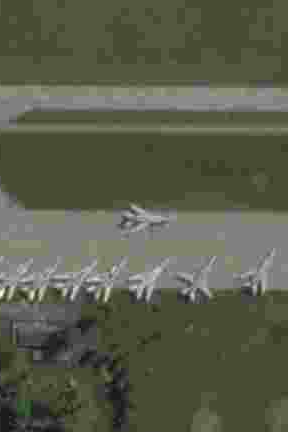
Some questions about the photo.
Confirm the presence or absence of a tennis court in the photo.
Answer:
No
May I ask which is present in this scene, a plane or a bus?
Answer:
plane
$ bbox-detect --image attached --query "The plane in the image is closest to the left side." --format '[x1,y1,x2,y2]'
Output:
[0,258,31,300]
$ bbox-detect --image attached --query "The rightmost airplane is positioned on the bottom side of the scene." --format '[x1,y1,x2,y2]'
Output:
[235,251,273,295]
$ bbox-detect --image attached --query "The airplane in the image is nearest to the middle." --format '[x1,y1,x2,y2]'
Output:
[121,201,169,233]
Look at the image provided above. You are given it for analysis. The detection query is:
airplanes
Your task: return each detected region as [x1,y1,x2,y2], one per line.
[177,257,216,301]
[0,258,31,300]
[128,259,168,300]
[235,251,273,295]
[87,258,126,301]
[56,258,96,299]
[19,258,58,301]
[121,201,169,233]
